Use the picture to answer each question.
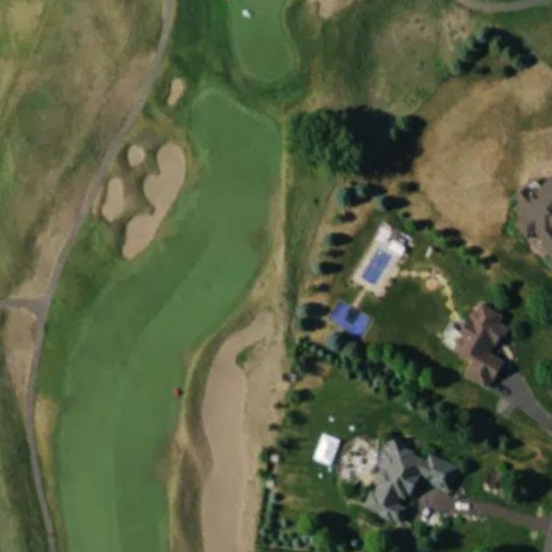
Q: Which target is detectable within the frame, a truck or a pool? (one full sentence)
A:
Visible in the photo is a pool.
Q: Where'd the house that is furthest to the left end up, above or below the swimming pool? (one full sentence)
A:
From this view, the house that is furthest to the left can be seen below the swimming pool.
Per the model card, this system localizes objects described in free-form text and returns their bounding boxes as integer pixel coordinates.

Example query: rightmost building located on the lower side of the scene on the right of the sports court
[453,300,511,388]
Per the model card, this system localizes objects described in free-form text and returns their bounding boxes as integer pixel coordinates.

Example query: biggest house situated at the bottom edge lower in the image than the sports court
[358,435,458,526]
